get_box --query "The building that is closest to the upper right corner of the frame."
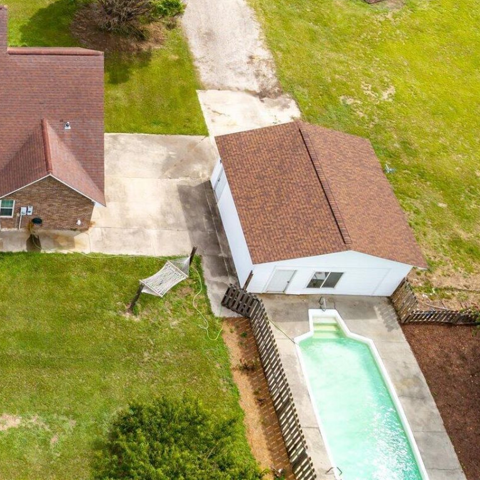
[215,122,428,297]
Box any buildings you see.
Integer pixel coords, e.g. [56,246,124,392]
[0,6,107,231]
[215,122,428,297]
